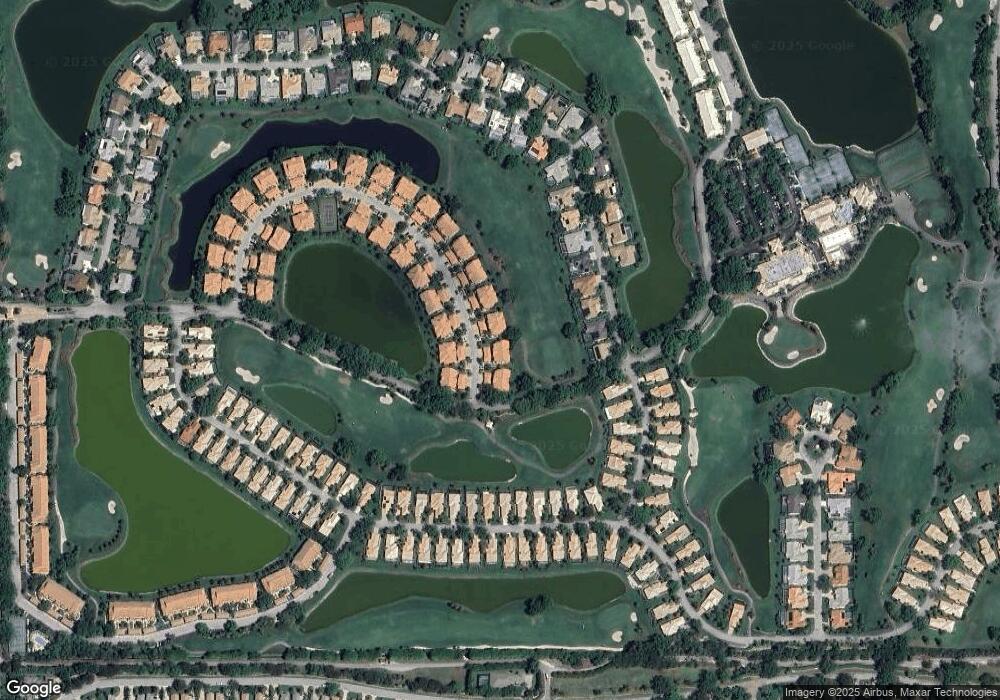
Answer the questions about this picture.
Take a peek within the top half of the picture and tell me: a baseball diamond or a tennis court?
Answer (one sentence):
It is a tennis court that can be seen within the top half of the picture.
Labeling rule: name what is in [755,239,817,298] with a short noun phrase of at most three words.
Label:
building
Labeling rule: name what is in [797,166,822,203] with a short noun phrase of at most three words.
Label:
tennis court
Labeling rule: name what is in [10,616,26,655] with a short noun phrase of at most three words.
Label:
tennis court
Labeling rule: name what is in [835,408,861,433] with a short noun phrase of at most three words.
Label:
house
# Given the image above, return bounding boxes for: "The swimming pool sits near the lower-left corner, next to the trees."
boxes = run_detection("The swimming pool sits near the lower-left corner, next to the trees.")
[30,633,47,651]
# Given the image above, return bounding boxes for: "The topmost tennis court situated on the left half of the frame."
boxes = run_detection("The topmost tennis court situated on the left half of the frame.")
[318,198,336,233]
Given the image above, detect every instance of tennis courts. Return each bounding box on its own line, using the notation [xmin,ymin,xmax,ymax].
[318,198,336,233]
[784,135,810,170]
[10,616,26,655]
[766,108,789,142]
[797,166,822,203]
[814,158,839,191]
[828,151,854,184]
